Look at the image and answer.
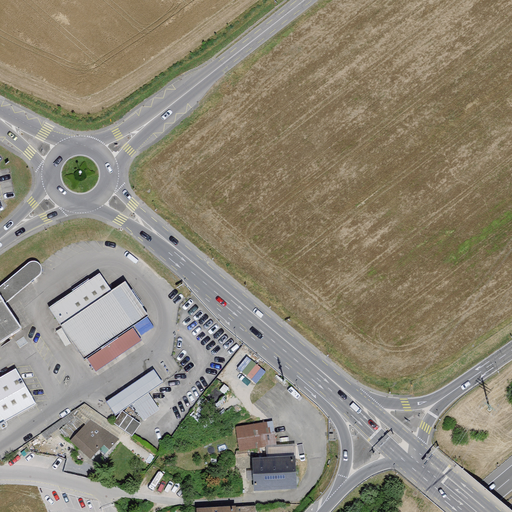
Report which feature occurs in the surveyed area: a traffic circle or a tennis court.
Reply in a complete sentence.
Looking from above, you can make out a traffic circle.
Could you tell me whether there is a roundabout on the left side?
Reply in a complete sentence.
Yes, the scene does show a roundabout on the left side.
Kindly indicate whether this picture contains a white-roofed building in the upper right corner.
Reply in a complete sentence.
No, I can find no white-roofed building in the upper right corner.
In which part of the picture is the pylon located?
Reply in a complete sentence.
The pylon is in the bottom right part of the image.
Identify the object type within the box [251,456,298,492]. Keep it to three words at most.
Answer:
house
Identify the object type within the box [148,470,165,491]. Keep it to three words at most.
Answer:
camper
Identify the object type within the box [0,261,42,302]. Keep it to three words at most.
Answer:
building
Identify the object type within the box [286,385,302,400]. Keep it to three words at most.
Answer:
vehicle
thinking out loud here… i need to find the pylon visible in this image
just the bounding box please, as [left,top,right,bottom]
[406,374,512,510]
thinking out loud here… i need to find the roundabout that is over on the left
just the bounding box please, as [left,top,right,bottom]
[42,136,119,212]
